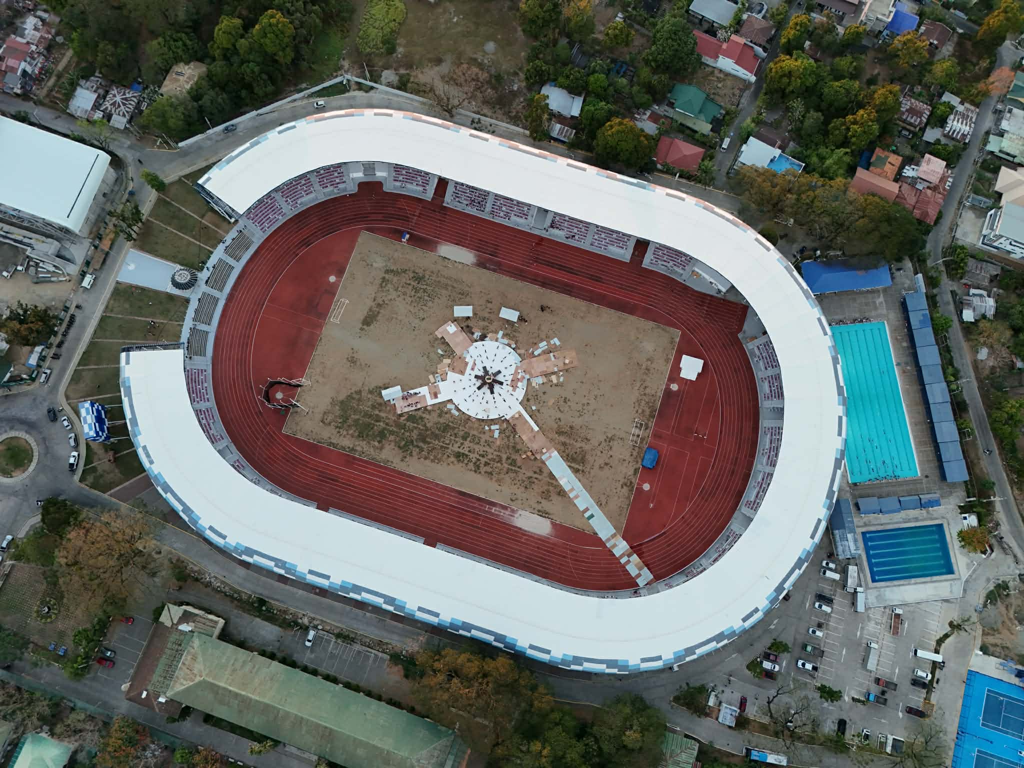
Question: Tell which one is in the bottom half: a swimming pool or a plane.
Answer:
swimming pool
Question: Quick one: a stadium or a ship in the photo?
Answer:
stadium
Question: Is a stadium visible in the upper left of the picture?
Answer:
Yes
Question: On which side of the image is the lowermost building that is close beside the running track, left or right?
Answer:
left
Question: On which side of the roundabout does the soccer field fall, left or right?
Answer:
right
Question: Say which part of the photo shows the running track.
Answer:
center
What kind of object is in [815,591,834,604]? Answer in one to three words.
vehicle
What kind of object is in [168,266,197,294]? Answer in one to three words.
gazebo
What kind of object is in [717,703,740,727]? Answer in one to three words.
building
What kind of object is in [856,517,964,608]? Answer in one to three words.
swimming pool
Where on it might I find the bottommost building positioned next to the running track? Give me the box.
[125,603,461,768]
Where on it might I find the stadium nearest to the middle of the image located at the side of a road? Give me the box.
[120,109,846,673]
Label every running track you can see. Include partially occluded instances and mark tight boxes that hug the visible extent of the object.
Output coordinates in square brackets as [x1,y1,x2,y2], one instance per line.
[213,177,759,591]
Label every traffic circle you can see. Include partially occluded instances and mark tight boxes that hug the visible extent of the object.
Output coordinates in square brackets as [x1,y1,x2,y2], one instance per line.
[0,432,38,482]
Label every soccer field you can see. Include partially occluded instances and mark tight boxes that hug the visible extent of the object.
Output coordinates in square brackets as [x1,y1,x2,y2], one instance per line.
[283,231,680,535]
